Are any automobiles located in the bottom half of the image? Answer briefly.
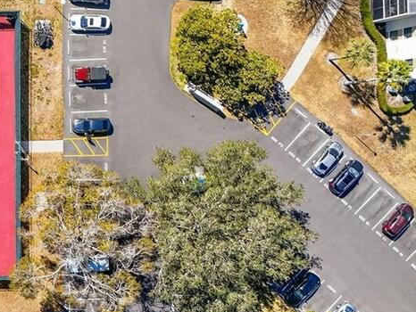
Yes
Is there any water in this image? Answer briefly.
No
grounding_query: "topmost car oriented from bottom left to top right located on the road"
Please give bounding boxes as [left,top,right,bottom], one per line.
[309,142,344,176]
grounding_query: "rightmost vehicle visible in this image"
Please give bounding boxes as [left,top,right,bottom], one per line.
[379,204,415,238]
